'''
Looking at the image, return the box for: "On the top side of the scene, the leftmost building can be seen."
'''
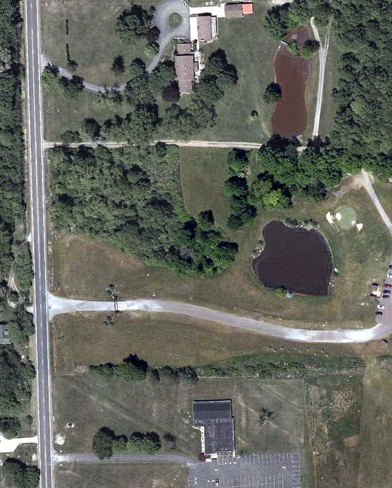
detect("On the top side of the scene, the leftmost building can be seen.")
[174,37,199,93]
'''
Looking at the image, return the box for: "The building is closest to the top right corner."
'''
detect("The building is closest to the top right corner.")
[224,2,253,17]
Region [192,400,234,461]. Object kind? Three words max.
building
